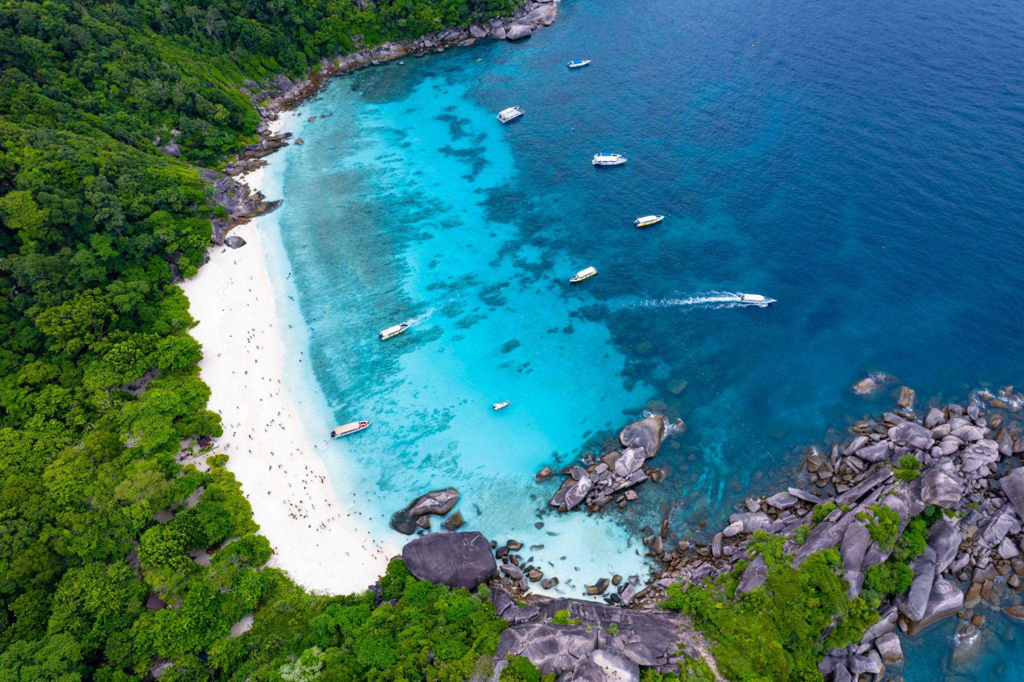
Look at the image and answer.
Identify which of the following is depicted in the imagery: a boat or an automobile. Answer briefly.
boat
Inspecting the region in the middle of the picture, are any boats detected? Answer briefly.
Yes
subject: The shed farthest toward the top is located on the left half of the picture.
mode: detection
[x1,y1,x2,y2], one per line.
[193,432,219,455]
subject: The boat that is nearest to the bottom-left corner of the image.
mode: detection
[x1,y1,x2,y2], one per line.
[327,420,370,440]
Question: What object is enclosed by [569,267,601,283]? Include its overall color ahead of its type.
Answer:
white boat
